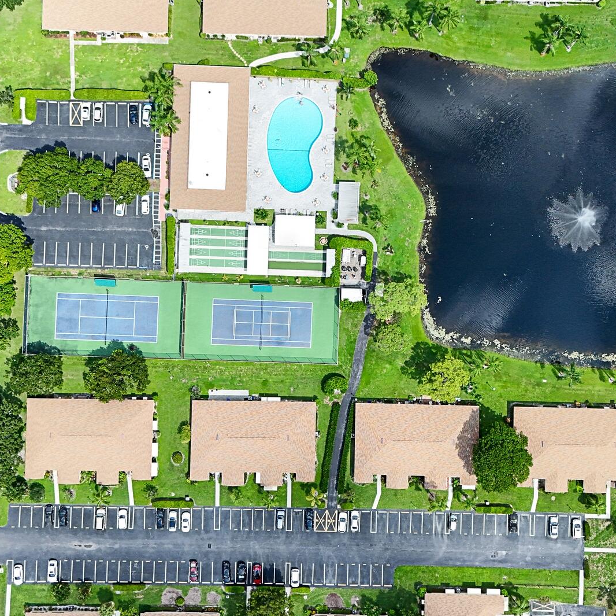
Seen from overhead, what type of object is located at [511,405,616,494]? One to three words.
house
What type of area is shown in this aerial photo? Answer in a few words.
residential area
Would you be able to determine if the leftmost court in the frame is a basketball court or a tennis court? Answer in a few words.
tennis court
